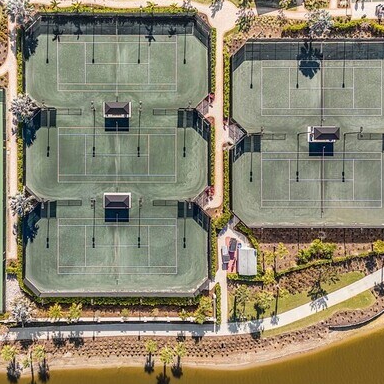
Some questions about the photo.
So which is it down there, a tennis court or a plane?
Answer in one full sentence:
Looking from above, you can make out a tennis court.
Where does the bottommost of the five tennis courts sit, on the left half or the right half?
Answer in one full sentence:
You can find the bottommost of the five tennis courts on the left side of the picture.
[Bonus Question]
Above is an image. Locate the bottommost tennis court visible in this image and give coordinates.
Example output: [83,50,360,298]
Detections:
[26,200,208,292]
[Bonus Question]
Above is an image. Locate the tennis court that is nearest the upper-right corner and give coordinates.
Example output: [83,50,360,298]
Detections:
[229,43,384,133]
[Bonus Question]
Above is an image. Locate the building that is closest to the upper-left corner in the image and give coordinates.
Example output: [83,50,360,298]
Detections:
[103,102,131,117]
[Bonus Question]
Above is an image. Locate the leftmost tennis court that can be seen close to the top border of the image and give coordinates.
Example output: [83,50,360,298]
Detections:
[26,17,208,107]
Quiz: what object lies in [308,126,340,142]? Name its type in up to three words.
building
